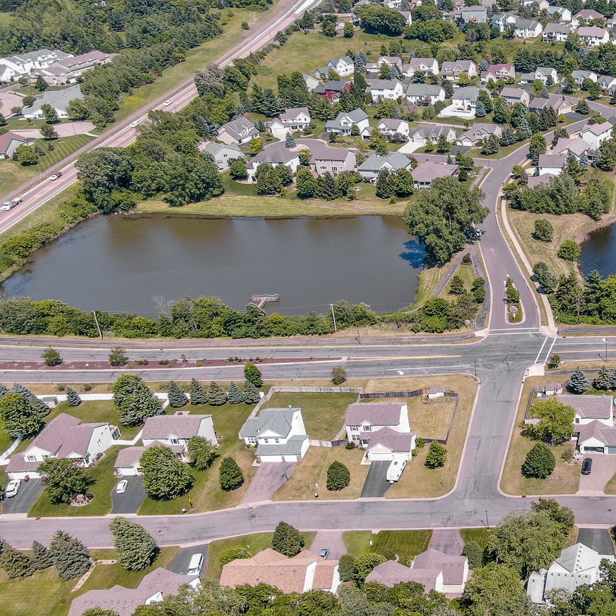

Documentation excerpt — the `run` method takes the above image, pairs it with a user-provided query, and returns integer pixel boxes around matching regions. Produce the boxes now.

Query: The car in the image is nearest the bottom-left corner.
[4,480,20,497]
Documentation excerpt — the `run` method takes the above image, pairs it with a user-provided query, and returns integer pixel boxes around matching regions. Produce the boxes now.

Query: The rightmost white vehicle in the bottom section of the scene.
[386,454,406,486]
